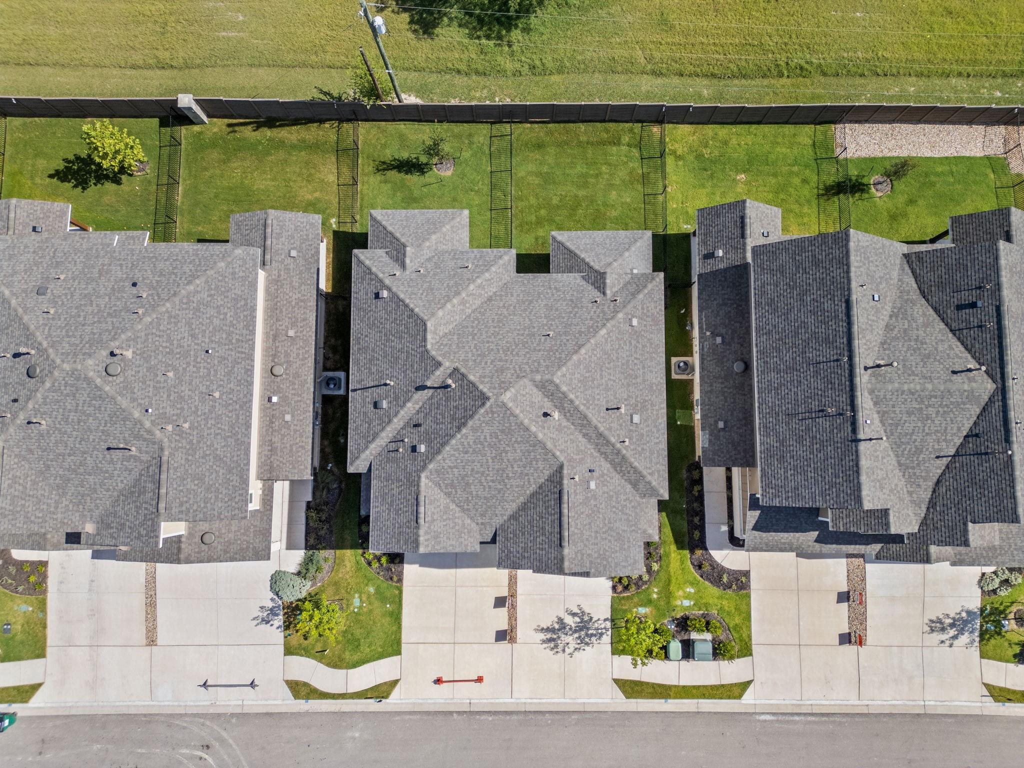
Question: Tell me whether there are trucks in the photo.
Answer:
No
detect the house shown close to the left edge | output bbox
[0,198,326,564]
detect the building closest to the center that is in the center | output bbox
[346,208,670,577]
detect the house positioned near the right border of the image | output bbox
[693,199,1024,568]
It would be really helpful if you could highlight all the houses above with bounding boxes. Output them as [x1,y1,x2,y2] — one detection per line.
[0,198,326,564]
[693,199,1024,568]
[346,208,670,577]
